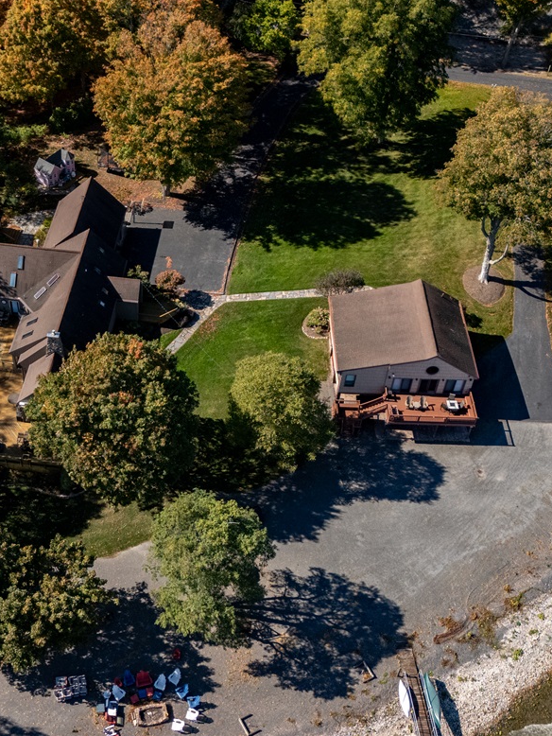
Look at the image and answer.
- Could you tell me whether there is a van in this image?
No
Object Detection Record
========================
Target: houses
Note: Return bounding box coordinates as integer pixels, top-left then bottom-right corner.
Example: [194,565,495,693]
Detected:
[0,175,143,426]
[325,279,480,411]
